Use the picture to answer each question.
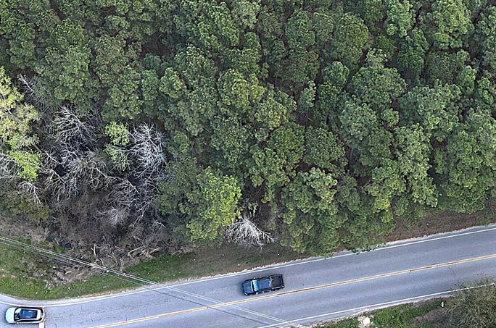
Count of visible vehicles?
2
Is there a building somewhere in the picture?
No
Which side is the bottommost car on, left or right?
left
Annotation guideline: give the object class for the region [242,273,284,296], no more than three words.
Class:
truck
